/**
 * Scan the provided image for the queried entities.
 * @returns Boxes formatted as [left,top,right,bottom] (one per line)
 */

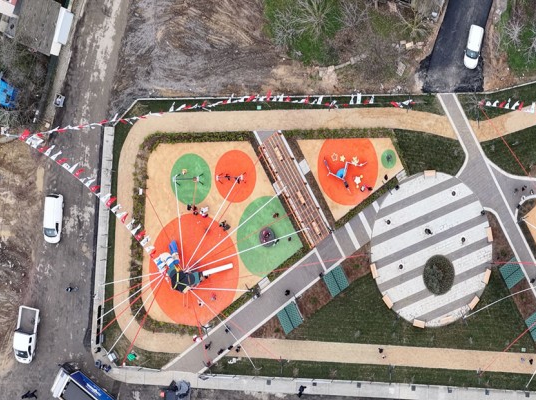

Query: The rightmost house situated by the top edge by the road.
[18,0,86,58]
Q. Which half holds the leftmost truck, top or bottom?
bottom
